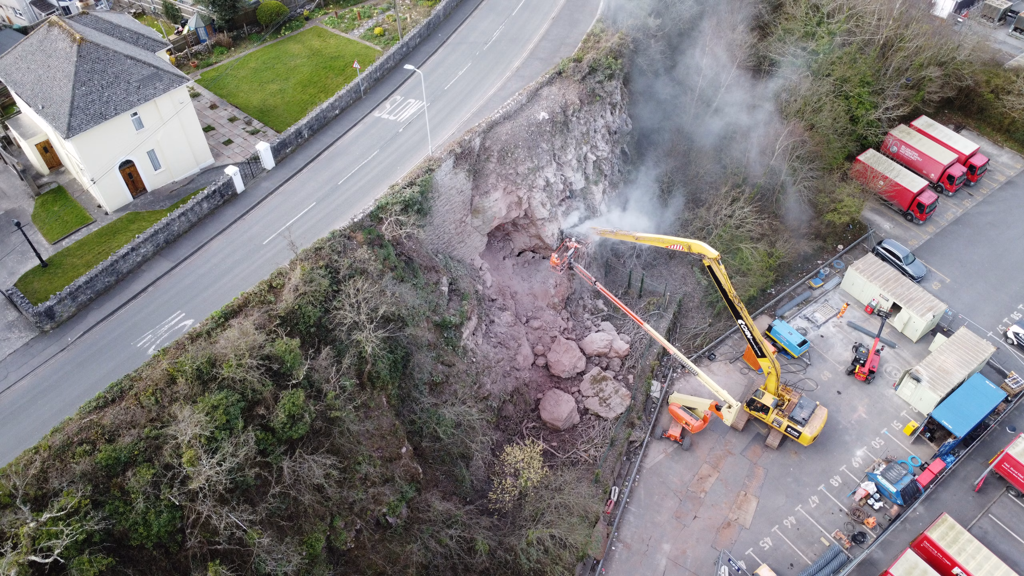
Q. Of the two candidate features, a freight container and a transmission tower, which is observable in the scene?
freight container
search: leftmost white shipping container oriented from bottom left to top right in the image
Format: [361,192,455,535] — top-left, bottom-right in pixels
[885,325,997,414]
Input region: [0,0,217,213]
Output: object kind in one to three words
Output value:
house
